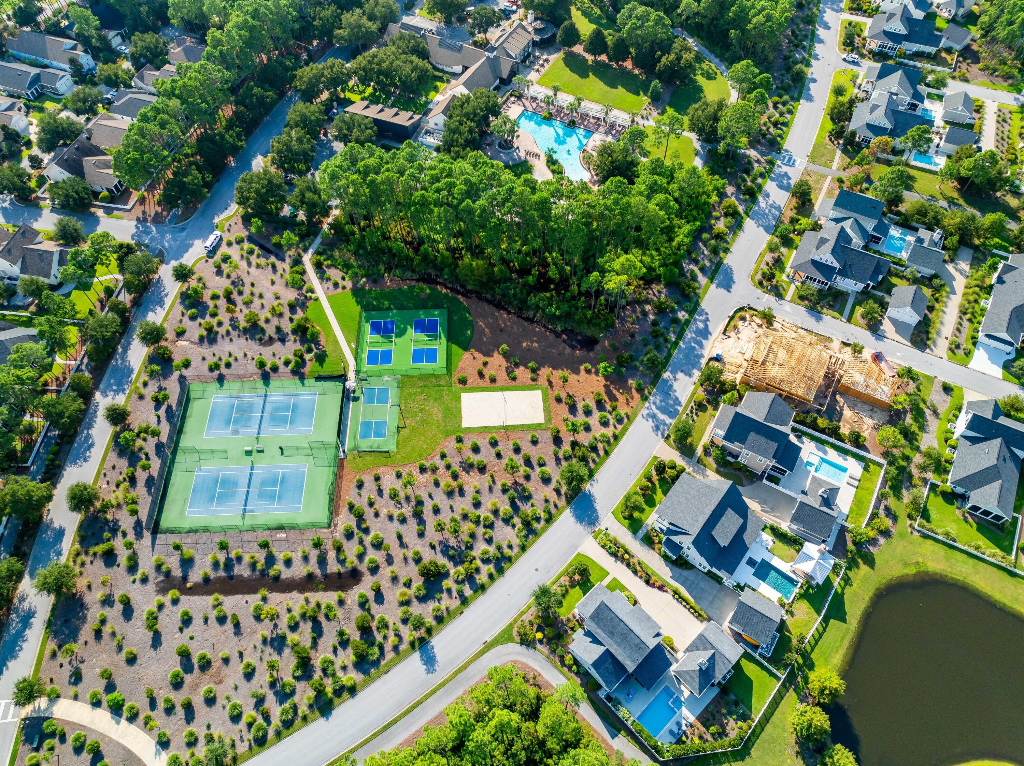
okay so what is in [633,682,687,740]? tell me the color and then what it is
blue swimming pool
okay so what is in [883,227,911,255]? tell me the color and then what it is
blue swimming pool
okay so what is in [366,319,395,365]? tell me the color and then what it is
blue sports court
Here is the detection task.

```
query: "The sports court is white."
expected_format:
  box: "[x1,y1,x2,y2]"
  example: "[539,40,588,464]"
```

[461,390,544,427]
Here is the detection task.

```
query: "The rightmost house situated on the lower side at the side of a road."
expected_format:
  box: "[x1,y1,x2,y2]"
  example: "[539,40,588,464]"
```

[949,399,1024,524]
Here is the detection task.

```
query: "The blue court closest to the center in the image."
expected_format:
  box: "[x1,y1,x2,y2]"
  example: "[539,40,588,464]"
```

[411,318,440,364]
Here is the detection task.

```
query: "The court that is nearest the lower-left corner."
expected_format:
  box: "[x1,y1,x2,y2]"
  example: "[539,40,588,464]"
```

[185,460,308,517]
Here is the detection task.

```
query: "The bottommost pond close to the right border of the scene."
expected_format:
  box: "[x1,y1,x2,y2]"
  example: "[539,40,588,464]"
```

[815,580,1024,766]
